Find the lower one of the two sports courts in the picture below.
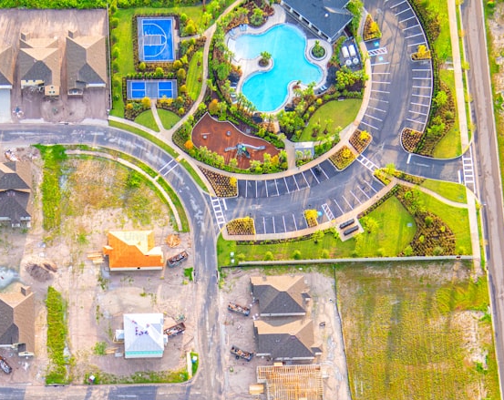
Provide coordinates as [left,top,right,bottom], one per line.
[126,79,177,99]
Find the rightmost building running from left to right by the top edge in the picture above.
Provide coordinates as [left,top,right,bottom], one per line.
[273,0,372,45]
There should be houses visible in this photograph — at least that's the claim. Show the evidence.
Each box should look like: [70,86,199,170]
[64,29,107,98]
[0,284,34,358]
[255,366,325,400]
[114,313,169,358]
[103,231,163,274]
[18,31,60,98]
[0,159,31,230]
[253,320,322,364]
[0,46,12,92]
[250,276,312,318]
